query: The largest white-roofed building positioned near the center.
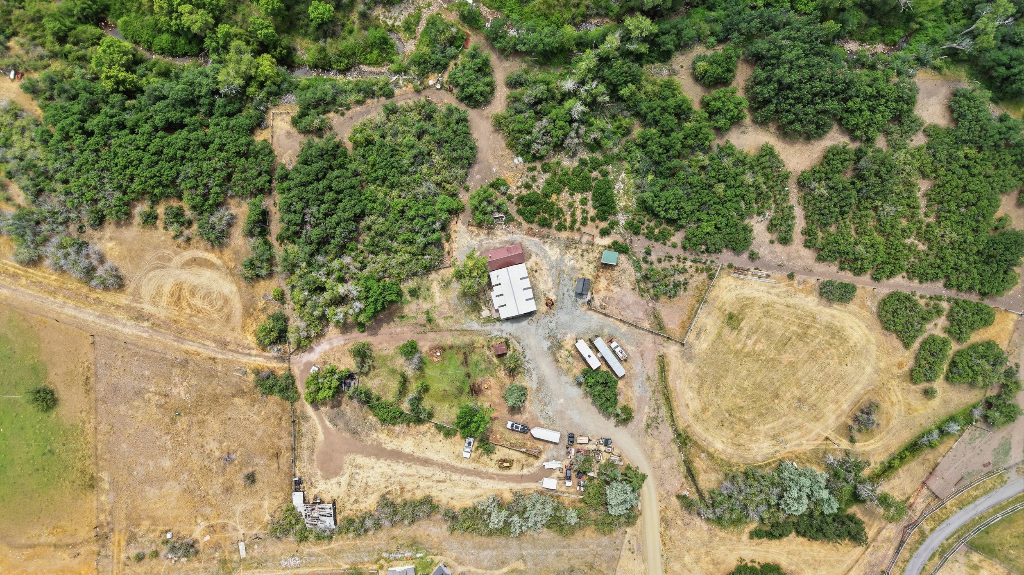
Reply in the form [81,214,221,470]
[490,263,537,319]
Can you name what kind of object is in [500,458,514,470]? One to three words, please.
vehicle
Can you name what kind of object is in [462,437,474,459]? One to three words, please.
vehicle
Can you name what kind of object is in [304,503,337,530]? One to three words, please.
barn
